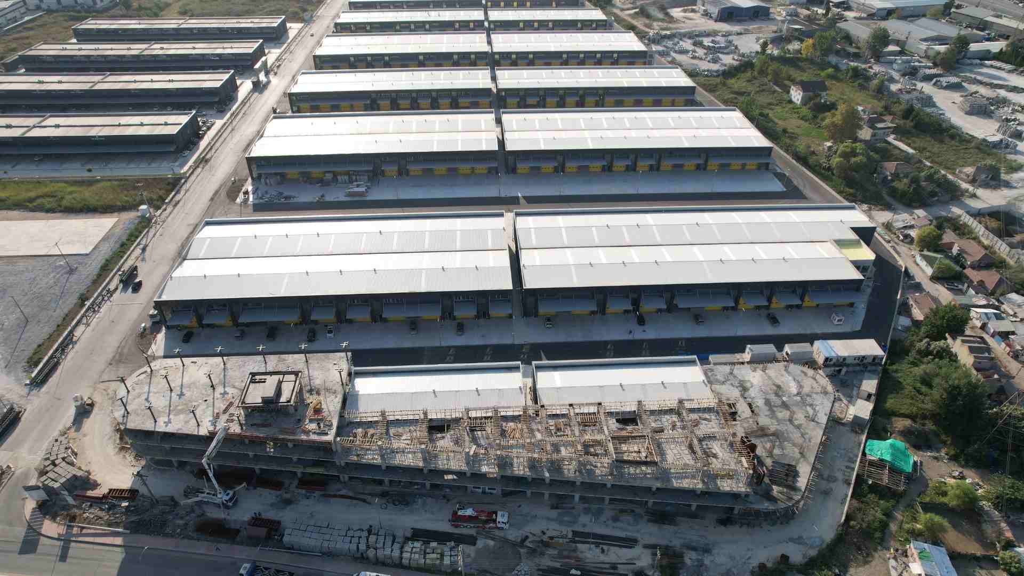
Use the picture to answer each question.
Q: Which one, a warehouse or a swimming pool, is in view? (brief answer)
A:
warehouse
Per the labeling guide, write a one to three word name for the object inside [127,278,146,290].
vehicle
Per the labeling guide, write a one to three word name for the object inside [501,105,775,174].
building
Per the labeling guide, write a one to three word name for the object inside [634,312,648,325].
vehicle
